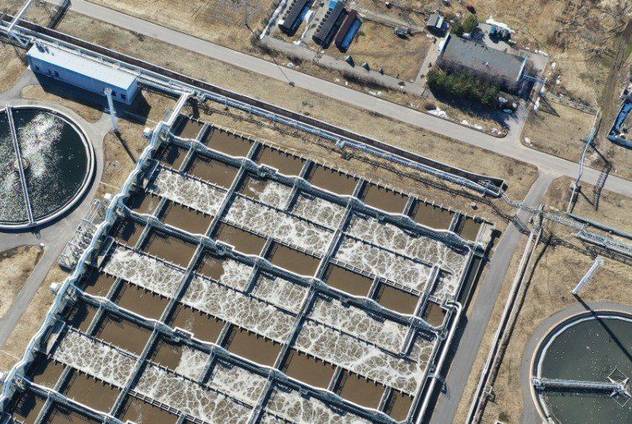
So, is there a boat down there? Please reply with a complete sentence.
No, no boat can be seen from above.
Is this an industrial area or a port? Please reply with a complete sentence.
The picture captures an industrial area.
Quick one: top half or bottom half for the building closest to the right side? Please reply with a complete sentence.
You can find the building closest to the right side in the top half.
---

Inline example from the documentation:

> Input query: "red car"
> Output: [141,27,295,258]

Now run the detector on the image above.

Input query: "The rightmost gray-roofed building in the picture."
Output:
[437,36,550,93]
